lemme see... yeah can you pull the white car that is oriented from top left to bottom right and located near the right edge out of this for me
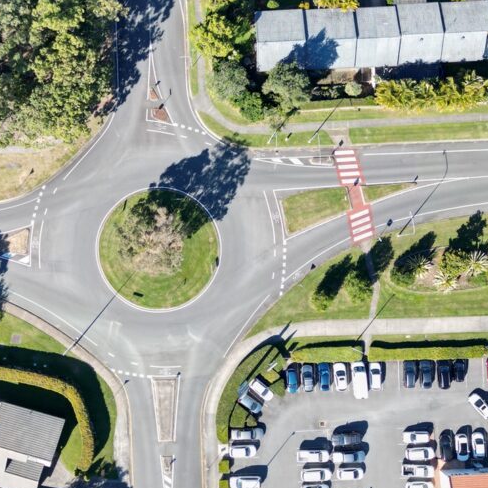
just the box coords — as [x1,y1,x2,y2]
[467,392,488,419]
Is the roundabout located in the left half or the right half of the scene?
left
